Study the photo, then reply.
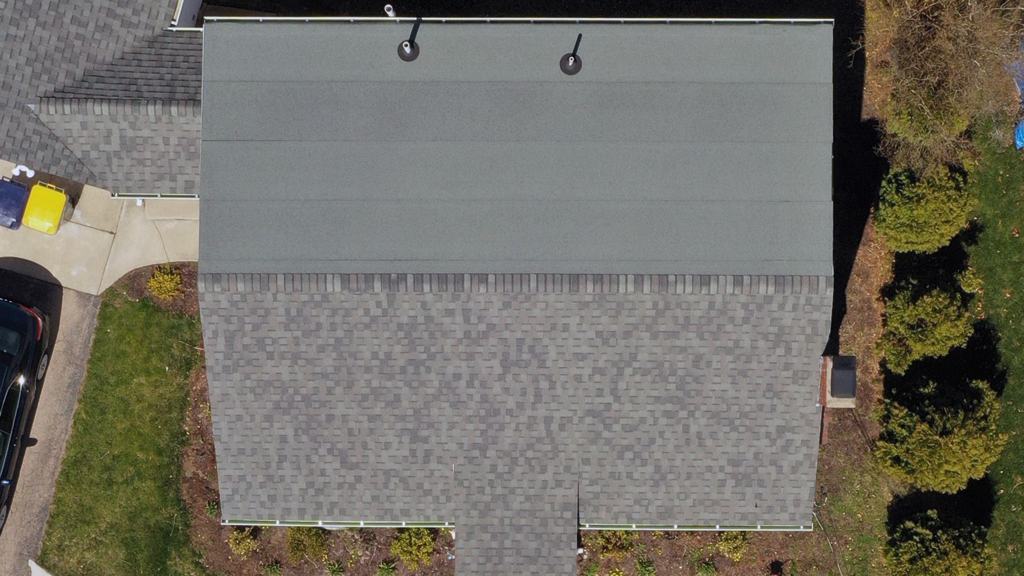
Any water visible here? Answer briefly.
No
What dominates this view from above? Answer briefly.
buildings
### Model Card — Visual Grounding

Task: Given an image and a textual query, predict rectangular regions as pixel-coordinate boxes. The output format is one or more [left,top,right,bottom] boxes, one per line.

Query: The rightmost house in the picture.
[198,4,857,576]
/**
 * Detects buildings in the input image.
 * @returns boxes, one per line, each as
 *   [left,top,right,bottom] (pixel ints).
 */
[0,0,209,191]
[198,4,857,576]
